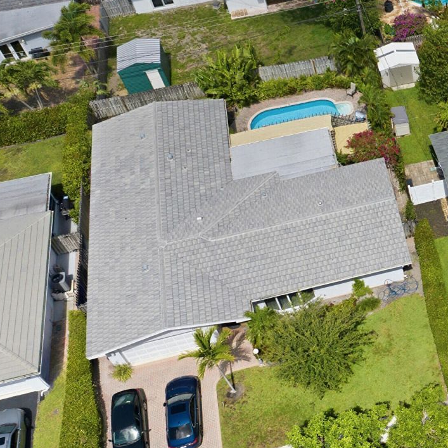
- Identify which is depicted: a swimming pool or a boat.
swimming pool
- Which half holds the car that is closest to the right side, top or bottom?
bottom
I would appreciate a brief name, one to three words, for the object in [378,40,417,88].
shed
